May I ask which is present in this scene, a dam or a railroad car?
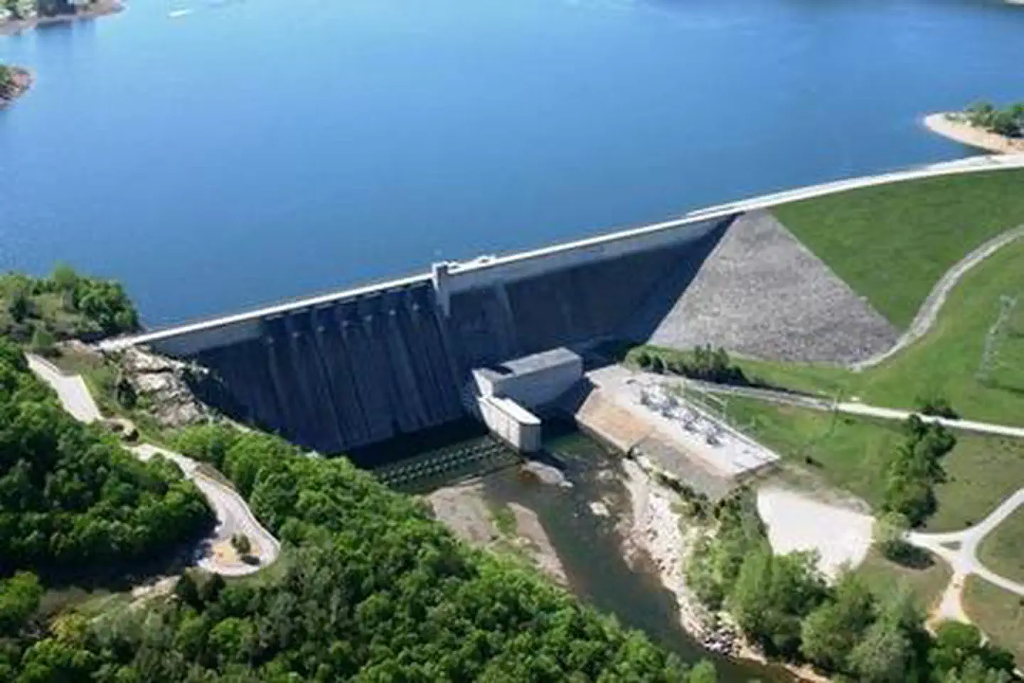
dam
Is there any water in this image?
Yes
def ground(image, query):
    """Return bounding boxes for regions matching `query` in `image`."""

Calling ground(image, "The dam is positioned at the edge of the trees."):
[90,201,771,460]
